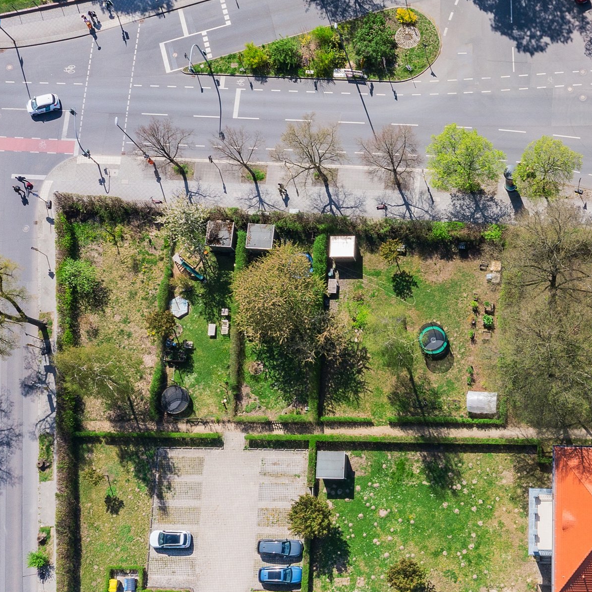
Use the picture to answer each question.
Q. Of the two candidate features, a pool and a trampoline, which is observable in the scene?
trampoline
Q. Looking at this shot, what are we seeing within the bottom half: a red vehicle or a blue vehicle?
blue vehicle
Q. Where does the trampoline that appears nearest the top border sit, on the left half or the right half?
right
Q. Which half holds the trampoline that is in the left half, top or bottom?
bottom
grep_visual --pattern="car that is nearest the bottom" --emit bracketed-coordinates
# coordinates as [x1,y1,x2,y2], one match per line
[258,565,302,588]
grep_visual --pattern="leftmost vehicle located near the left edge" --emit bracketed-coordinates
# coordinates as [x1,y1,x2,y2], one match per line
[28,95,61,116]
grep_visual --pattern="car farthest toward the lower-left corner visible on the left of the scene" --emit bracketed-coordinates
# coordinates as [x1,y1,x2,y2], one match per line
[149,529,191,550]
